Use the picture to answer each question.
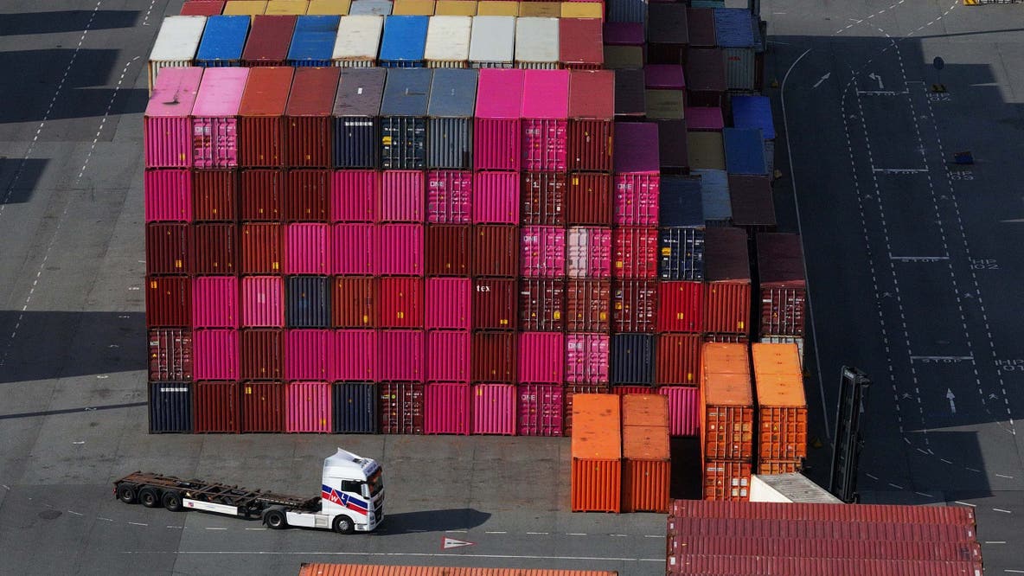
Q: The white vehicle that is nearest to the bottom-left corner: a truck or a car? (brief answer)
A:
truck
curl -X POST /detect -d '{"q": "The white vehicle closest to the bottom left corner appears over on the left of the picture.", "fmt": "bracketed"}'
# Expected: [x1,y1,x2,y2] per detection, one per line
[262,447,383,533]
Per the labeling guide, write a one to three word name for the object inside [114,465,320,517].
trailer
